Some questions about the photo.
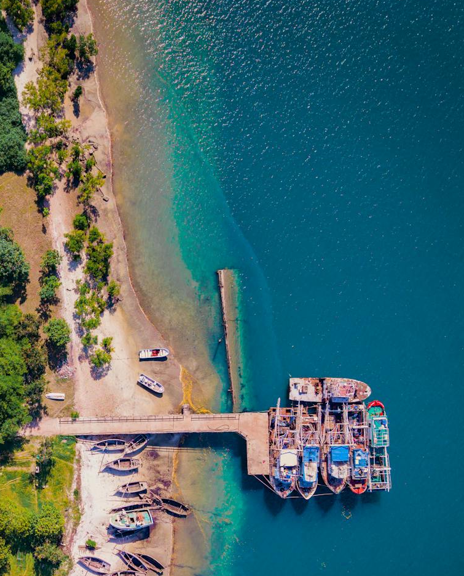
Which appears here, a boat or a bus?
boat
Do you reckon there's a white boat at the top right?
No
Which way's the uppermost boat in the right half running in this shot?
from left to right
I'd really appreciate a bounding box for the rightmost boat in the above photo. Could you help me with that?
[367,400,392,492]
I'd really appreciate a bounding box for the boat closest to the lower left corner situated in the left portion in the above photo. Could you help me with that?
[73,555,111,575]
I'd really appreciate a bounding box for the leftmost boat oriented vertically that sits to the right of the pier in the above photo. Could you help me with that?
[269,399,303,498]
